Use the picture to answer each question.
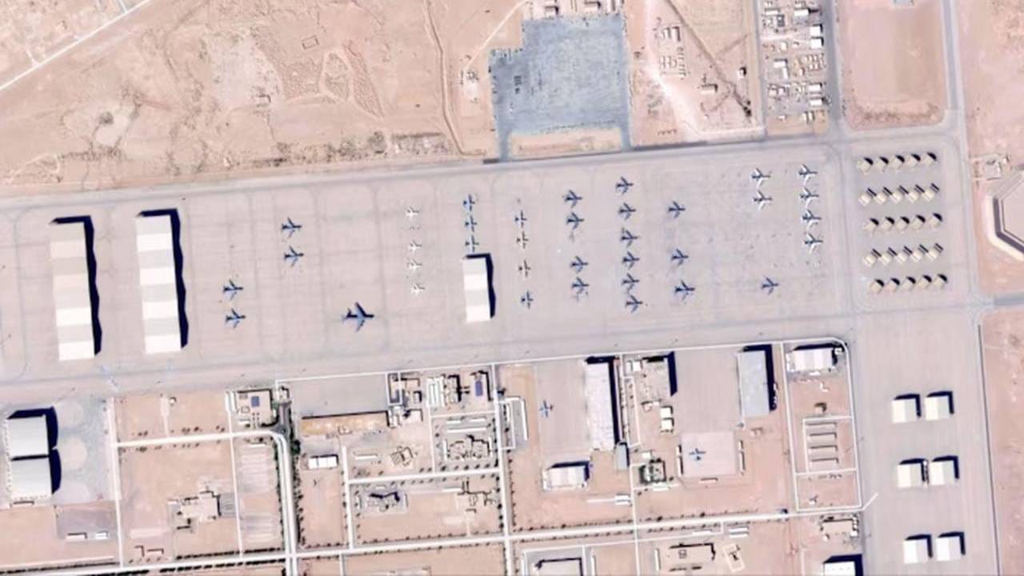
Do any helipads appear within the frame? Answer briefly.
No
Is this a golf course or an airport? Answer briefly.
airport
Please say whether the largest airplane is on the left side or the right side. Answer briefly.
left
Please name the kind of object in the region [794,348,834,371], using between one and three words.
hangar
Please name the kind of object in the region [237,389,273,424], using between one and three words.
building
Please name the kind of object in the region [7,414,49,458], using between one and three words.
hangar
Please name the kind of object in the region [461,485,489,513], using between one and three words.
house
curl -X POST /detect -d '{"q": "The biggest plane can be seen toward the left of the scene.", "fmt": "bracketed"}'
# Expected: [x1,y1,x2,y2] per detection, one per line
[342,305,371,332]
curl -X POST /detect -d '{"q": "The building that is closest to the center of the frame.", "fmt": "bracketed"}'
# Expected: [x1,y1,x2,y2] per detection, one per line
[462,257,491,322]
